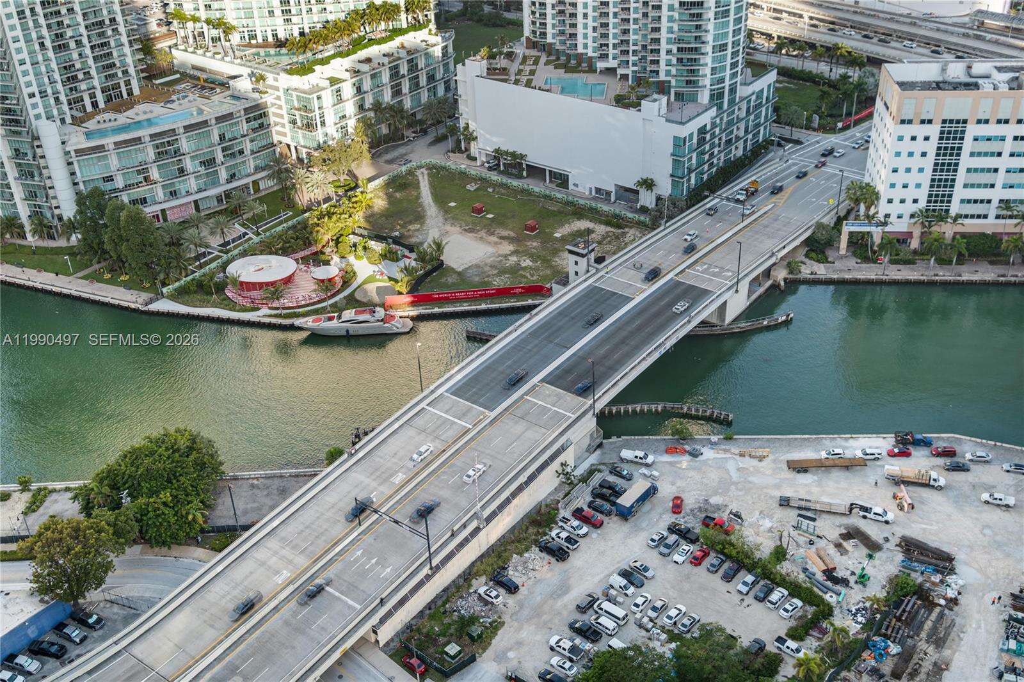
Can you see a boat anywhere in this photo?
Yes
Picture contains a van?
Yes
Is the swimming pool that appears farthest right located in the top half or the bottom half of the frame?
top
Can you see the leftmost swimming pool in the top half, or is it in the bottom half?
top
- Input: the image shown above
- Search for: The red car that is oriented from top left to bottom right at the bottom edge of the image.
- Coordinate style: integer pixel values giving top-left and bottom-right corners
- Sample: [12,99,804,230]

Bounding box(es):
[399,654,428,676]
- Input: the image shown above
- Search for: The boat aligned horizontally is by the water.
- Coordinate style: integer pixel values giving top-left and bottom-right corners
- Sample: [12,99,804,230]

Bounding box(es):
[300,309,416,337]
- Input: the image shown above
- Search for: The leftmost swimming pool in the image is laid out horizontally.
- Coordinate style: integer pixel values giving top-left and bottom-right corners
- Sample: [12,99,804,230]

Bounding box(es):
[86,106,202,138]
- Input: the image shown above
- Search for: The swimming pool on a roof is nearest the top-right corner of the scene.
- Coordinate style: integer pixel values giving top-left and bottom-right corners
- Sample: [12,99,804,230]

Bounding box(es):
[545,76,605,97]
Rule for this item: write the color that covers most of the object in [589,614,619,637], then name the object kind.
white vehicle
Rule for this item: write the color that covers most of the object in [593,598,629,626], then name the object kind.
white van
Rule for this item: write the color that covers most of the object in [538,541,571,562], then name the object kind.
black truck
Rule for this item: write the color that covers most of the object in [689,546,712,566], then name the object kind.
red car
